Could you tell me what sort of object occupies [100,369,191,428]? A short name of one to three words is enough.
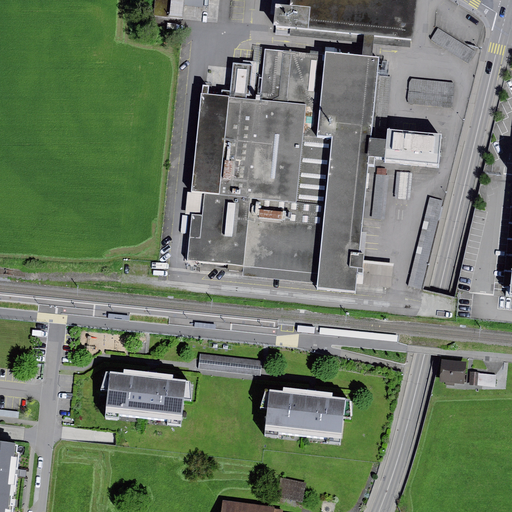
house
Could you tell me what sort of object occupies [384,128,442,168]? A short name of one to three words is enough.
building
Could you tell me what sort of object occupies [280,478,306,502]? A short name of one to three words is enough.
shed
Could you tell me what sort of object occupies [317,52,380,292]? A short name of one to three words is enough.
building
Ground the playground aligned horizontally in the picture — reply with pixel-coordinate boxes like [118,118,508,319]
[79,330,144,354]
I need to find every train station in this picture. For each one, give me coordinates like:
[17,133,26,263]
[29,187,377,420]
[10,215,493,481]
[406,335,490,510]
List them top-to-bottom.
[0,294,398,342]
